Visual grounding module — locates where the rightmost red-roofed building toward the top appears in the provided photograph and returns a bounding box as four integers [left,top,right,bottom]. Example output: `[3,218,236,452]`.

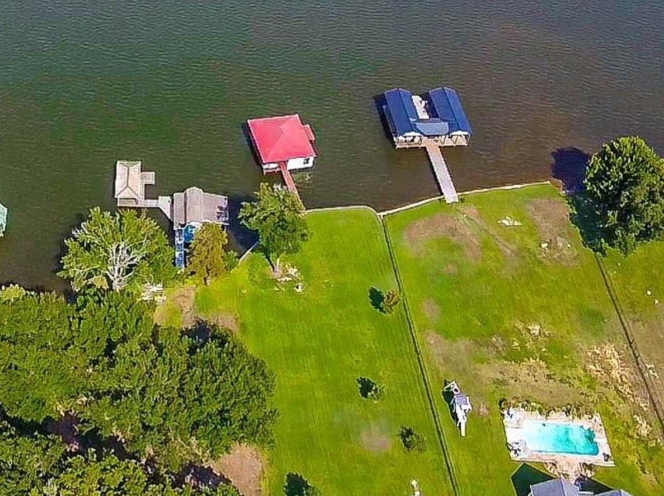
[249,114,314,174]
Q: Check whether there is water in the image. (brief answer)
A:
Yes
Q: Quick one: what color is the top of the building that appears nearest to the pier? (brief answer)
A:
blue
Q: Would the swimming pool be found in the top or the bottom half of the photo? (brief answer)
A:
bottom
